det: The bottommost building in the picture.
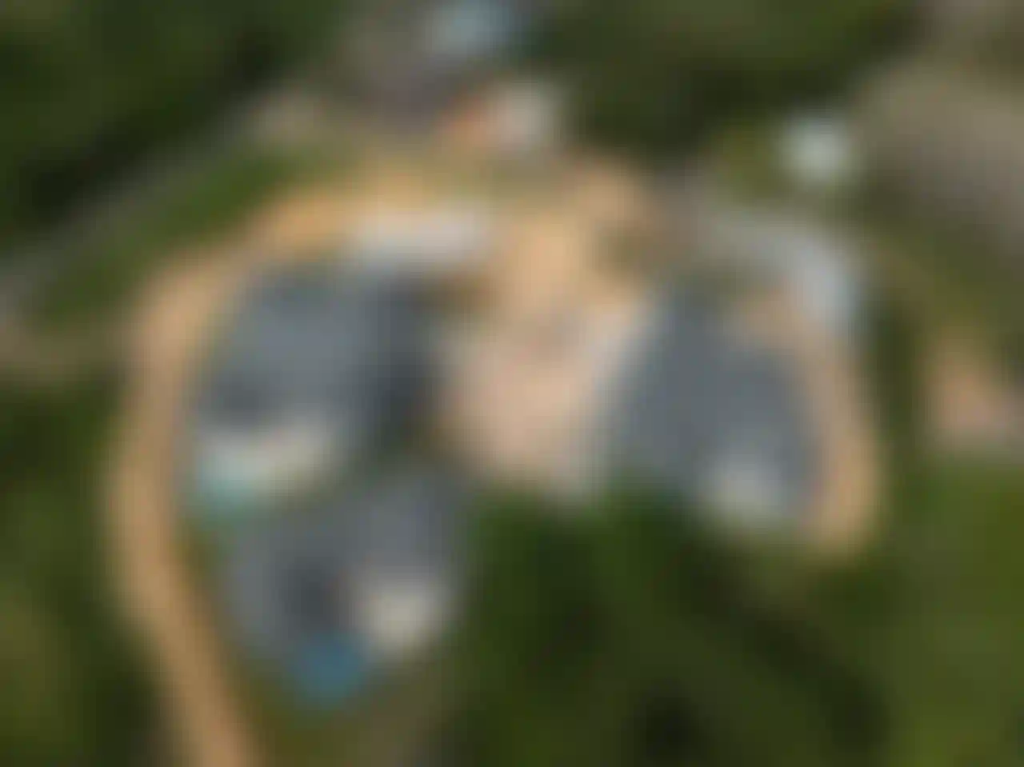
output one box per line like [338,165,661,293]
[205,447,480,667]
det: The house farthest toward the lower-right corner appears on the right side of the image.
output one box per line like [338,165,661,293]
[599,284,848,549]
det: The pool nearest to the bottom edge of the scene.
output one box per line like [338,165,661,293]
[282,624,384,712]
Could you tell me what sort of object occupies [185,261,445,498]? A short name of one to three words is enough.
house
